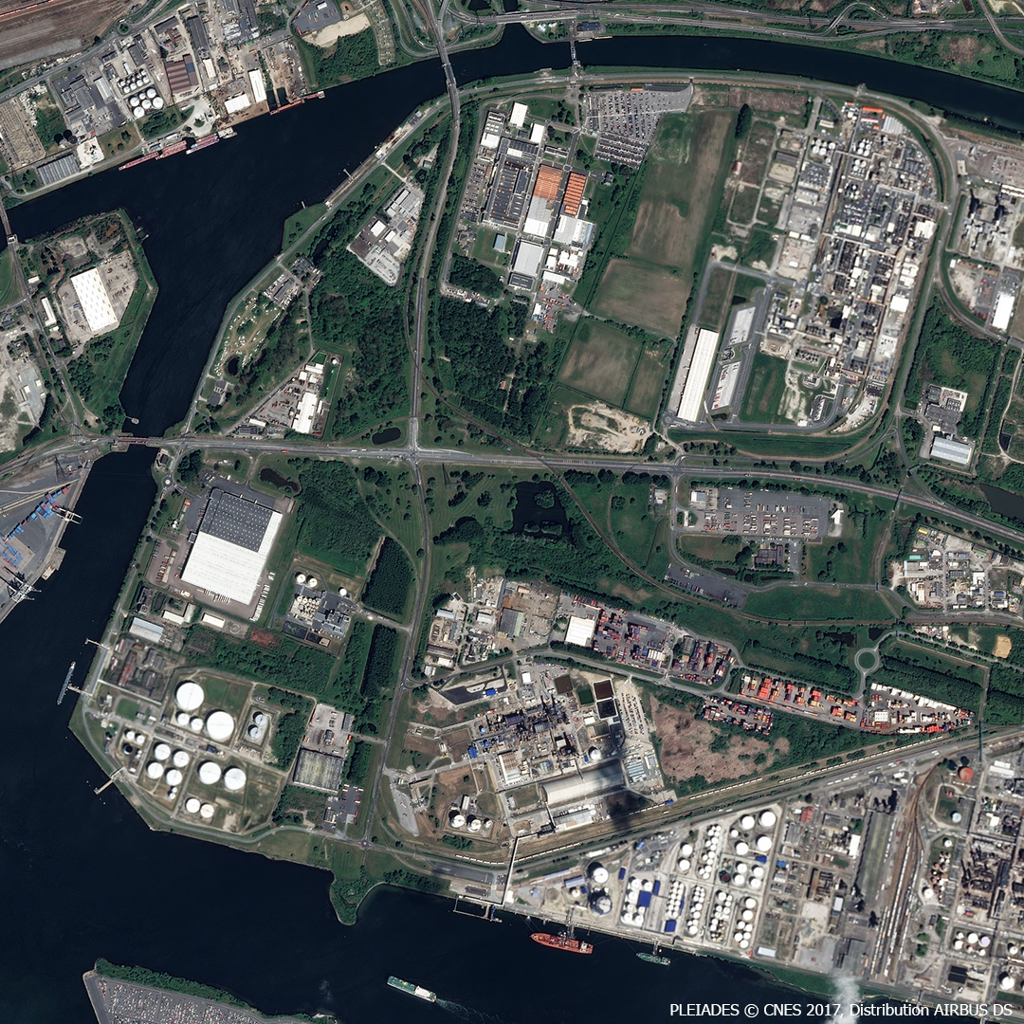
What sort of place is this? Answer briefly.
port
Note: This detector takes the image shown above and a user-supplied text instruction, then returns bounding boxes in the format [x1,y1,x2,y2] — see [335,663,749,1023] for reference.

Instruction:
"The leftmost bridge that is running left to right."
[111,433,166,447]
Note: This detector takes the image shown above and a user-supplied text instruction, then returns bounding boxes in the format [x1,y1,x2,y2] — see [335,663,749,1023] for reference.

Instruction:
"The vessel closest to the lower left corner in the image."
[57,662,75,704]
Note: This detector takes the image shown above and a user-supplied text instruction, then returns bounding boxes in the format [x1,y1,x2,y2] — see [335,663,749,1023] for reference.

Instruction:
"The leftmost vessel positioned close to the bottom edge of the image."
[387,977,436,1003]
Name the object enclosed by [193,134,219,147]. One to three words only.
ship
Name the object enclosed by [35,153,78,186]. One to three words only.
shed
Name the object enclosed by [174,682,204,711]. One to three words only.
storage tank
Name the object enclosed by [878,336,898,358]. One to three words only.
building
